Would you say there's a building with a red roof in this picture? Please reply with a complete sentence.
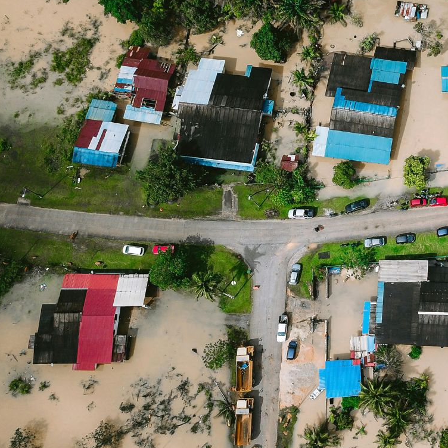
Yes, a building with a red roof appears in the view.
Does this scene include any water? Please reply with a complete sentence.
Yes, water shows up in the scene.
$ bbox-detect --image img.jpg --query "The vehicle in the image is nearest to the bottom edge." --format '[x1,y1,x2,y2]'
[231,398,254,448]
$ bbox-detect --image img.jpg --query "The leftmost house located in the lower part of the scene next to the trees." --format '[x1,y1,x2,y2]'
[28,269,153,370]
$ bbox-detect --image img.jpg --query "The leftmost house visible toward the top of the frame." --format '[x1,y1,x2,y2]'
[73,99,133,168]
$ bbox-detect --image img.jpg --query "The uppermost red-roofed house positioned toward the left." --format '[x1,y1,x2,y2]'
[114,47,179,127]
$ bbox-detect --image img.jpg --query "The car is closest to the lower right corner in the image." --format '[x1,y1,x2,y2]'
[285,339,298,361]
